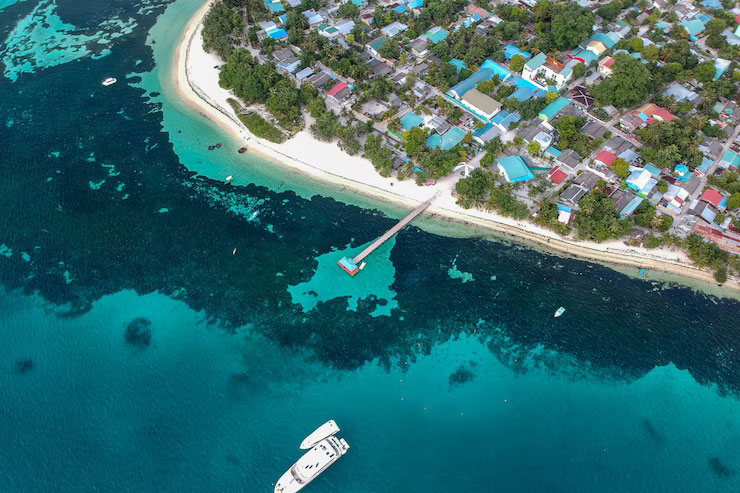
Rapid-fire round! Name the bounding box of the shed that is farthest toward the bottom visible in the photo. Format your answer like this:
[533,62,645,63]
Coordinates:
[337,256,360,280]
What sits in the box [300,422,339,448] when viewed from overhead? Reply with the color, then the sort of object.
white boat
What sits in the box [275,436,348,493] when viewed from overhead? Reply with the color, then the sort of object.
white boat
